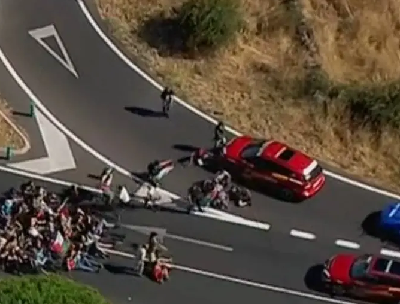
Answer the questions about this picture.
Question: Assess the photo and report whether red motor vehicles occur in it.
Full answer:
Yes, the frame does contain a red motor vehicle.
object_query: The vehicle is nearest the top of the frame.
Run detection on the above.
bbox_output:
[220,131,329,195]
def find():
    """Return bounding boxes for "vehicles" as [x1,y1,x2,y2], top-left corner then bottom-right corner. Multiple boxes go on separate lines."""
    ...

[383,197,400,239]
[325,245,400,300]
[220,131,329,195]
